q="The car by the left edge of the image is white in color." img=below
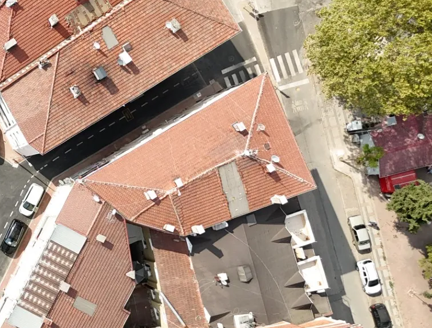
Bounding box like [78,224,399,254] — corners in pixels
[19,182,44,217]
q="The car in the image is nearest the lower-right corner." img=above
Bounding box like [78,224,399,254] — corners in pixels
[369,301,392,328]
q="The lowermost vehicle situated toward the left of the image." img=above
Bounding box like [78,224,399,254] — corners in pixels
[1,218,26,255]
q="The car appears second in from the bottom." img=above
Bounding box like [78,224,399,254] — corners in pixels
[356,259,381,295]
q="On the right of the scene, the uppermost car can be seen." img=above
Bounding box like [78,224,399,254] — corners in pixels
[346,214,370,252]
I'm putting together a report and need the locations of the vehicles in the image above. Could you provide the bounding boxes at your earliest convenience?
[19,182,44,217]
[1,218,26,255]
[369,301,392,328]
[346,214,370,252]
[356,259,381,295]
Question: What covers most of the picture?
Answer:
buildings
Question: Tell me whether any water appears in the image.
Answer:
No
